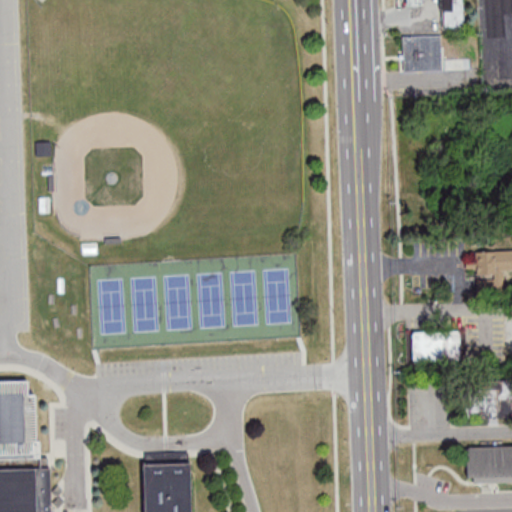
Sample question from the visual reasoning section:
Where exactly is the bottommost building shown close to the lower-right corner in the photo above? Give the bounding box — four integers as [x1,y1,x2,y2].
[468,446,512,483]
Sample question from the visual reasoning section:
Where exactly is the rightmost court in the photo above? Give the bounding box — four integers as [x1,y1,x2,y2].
[263,269,291,324]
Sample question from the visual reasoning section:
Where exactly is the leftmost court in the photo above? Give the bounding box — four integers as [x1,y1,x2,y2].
[98,279,126,334]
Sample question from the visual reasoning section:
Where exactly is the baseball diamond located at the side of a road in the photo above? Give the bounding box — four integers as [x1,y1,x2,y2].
[21,0,304,264]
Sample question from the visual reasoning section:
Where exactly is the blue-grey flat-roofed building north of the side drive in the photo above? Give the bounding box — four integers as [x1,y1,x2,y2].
[399,36,442,72]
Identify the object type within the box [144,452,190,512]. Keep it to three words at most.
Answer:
building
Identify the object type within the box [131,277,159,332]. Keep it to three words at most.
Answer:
tennis court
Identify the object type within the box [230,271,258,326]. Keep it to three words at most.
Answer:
tennis court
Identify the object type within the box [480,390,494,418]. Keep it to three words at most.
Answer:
house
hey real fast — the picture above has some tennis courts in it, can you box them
[98,279,126,334]
[230,271,258,326]
[263,269,291,324]
[197,273,225,328]
[131,277,159,332]
[164,275,192,330]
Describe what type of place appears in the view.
sports ground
